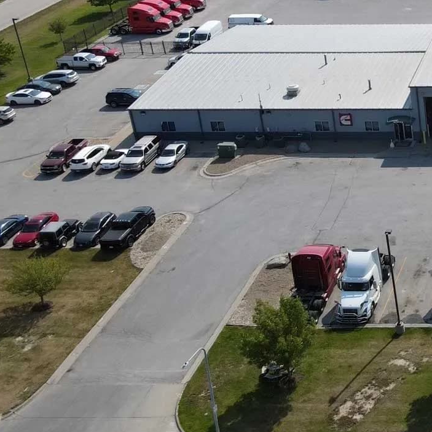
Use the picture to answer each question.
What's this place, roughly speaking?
parking lot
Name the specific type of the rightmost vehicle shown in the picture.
truck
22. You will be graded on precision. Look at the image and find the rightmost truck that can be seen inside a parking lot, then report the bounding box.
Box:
[332,240,390,322]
